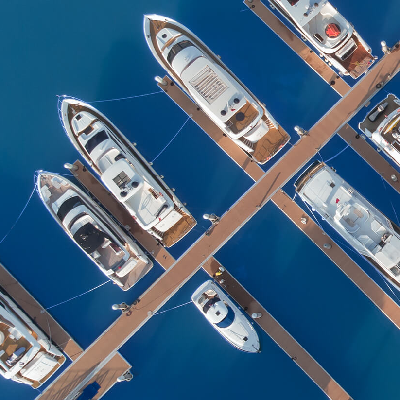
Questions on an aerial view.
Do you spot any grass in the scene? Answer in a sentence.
No, no grass is visible.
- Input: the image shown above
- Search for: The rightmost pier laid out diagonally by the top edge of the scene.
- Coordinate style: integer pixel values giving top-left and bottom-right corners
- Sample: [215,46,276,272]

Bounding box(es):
[242,0,351,97]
